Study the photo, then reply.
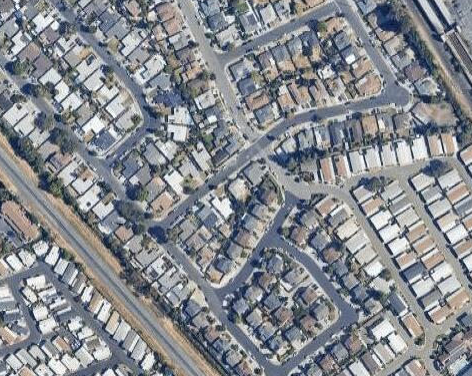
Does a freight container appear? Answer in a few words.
No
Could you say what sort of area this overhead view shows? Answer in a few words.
residential area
